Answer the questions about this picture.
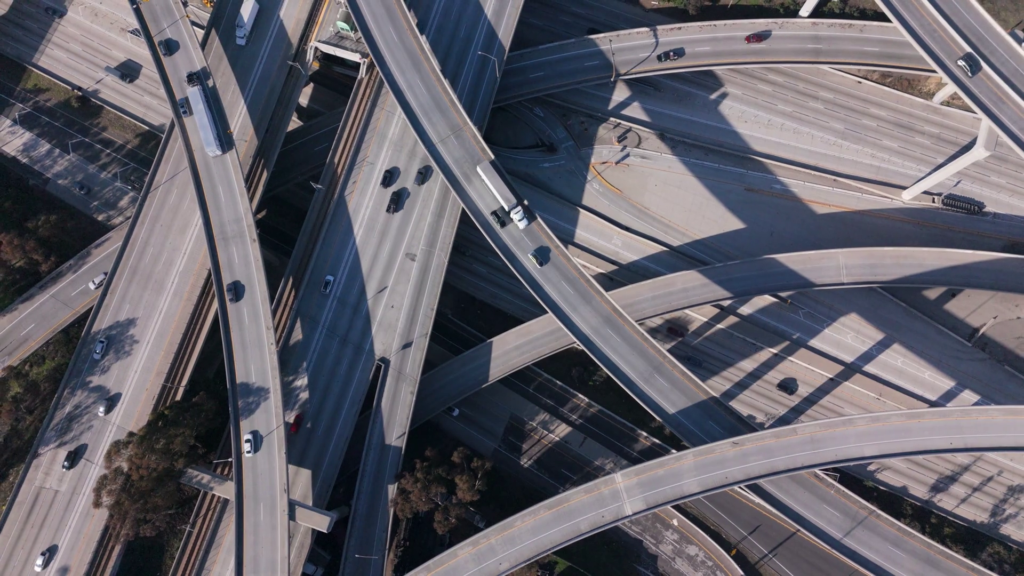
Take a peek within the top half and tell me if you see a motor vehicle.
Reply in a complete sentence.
Yes, a motor vehicle can be seen within the top half.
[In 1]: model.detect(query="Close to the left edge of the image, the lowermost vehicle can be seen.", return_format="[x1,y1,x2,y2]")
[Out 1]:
[34,549,51,572]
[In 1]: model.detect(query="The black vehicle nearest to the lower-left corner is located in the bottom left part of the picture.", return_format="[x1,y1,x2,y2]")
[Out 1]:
[61,449,77,472]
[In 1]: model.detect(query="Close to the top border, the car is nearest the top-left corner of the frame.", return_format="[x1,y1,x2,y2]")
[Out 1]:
[44,4,62,17]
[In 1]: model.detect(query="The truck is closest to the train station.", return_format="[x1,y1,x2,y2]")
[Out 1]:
[235,0,260,48]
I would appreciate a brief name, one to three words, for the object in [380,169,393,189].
vehicle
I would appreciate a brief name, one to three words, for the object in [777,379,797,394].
car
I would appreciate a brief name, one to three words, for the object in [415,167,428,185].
vehicle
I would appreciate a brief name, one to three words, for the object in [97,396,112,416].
car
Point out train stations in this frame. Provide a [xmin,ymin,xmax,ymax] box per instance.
[295,0,367,102]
